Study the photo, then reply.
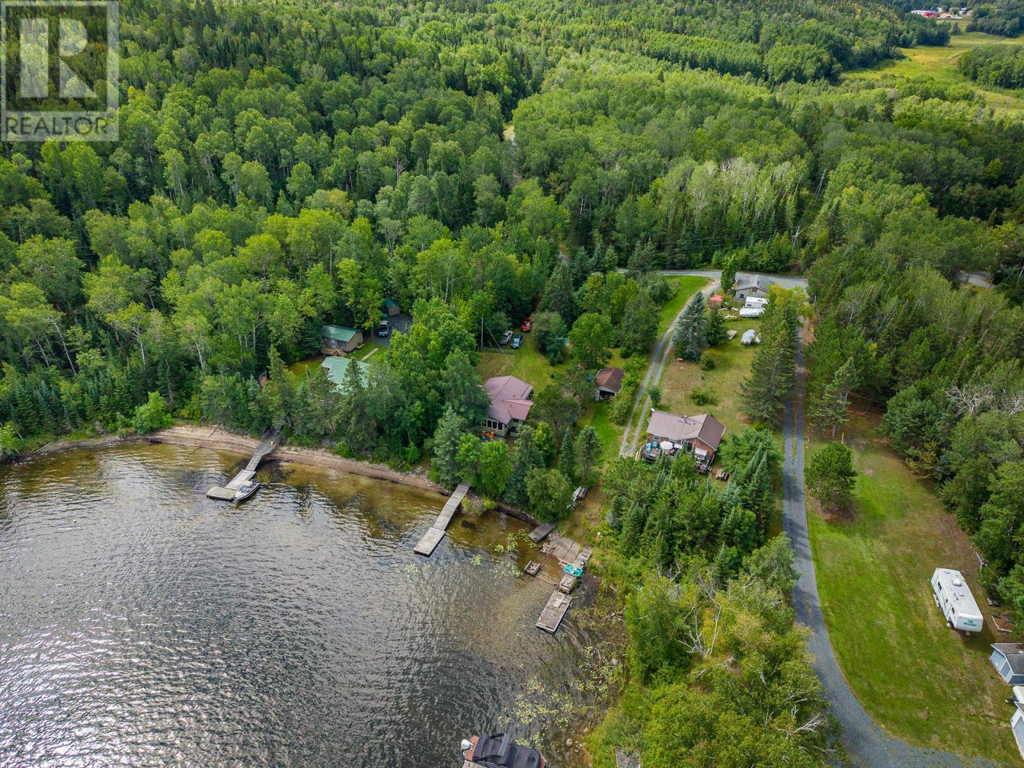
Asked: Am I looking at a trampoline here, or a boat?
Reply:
boat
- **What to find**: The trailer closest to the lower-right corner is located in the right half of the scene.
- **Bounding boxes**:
[929,567,981,635]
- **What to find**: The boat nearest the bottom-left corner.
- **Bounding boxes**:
[234,476,268,503]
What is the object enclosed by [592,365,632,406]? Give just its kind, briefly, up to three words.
building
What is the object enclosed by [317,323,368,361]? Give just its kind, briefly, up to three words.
building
